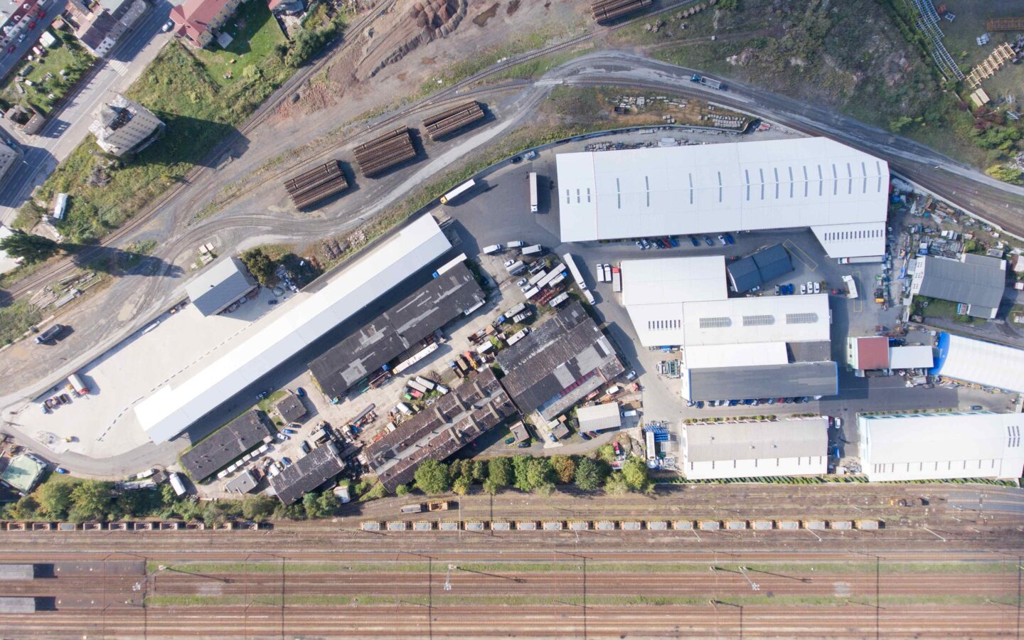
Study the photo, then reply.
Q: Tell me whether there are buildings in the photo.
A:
Yes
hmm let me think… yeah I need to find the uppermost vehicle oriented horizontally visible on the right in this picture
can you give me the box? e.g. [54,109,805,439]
[687,73,723,89]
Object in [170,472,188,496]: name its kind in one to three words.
vehicle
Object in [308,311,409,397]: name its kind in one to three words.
shed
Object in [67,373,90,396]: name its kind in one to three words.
truck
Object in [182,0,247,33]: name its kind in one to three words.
house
